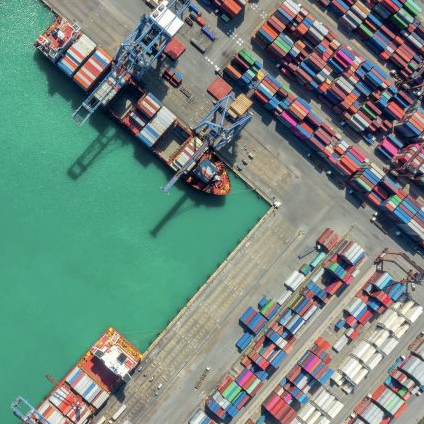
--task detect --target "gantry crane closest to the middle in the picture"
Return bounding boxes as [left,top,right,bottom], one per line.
[163,75,267,192]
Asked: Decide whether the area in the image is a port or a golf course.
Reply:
port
